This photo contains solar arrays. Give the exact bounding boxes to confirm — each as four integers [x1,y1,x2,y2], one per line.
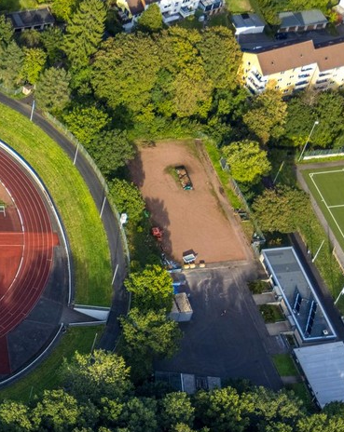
[306,301,320,329]
[294,296,306,313]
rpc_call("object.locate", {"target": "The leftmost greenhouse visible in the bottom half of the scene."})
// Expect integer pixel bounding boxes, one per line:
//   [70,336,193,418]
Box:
[153,369,181,397]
